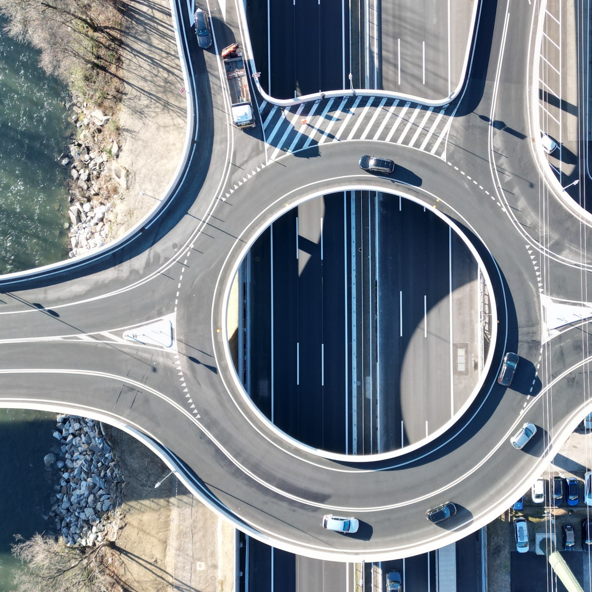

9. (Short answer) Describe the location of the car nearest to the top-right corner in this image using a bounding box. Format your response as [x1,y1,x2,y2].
[541,128,558,156]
